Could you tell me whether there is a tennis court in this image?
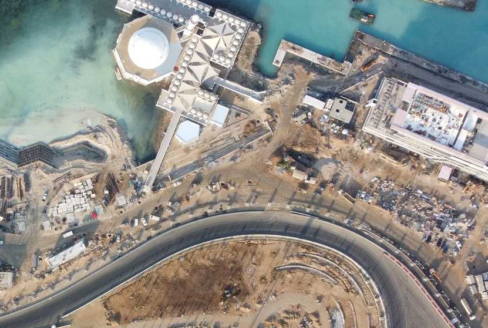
No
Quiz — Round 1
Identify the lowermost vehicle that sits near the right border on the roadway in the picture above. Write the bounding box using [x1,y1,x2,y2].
[459,296,478,324]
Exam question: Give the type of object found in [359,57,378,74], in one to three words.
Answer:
vehicle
